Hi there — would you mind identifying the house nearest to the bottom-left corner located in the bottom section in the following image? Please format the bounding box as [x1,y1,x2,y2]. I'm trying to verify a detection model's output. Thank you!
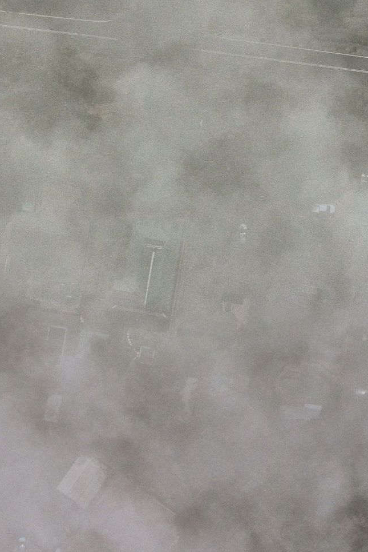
[56,454,106,510]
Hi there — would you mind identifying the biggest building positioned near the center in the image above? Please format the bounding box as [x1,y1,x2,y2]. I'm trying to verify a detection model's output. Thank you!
[110,226,182,311]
